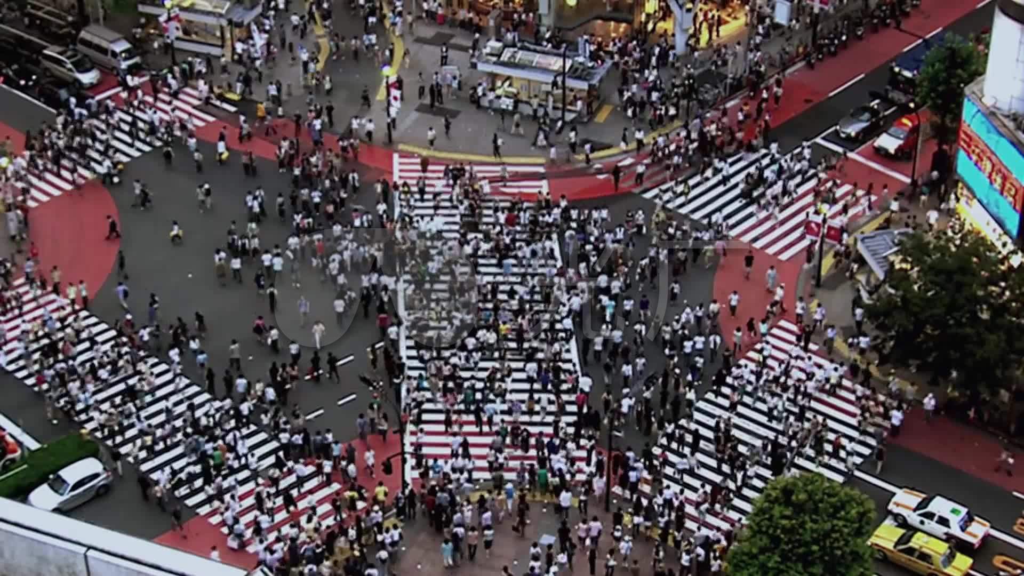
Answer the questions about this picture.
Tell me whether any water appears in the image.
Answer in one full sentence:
No, the scene doesn't show any water.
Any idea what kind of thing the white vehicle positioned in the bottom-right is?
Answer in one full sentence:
The white vehicle positioned in the bottom-right appears to be a car.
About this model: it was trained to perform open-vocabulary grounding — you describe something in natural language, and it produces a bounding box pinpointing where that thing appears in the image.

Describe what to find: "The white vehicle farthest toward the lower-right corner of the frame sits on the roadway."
[881,486,997,550]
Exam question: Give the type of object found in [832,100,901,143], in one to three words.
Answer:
car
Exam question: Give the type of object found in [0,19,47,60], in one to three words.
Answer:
car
